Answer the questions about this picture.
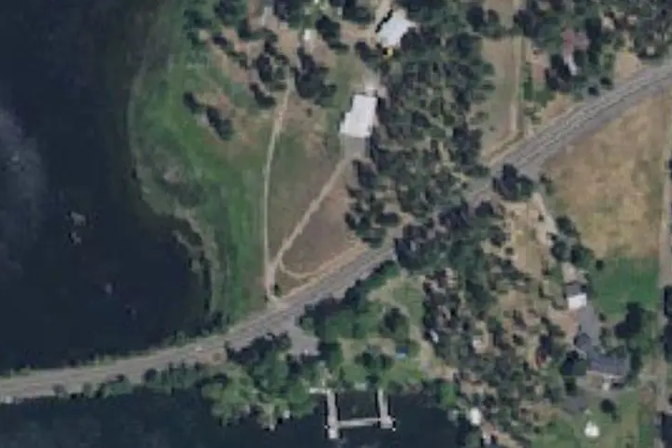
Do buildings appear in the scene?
Yes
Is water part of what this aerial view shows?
Yes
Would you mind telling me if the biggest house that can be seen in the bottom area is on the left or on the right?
right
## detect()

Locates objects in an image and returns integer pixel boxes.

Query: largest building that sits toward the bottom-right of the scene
[576,334,630,384]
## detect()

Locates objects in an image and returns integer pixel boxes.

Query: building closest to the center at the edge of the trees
[338,91,380,140]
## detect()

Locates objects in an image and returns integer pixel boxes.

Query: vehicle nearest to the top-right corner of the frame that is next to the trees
[565,56,578,74]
